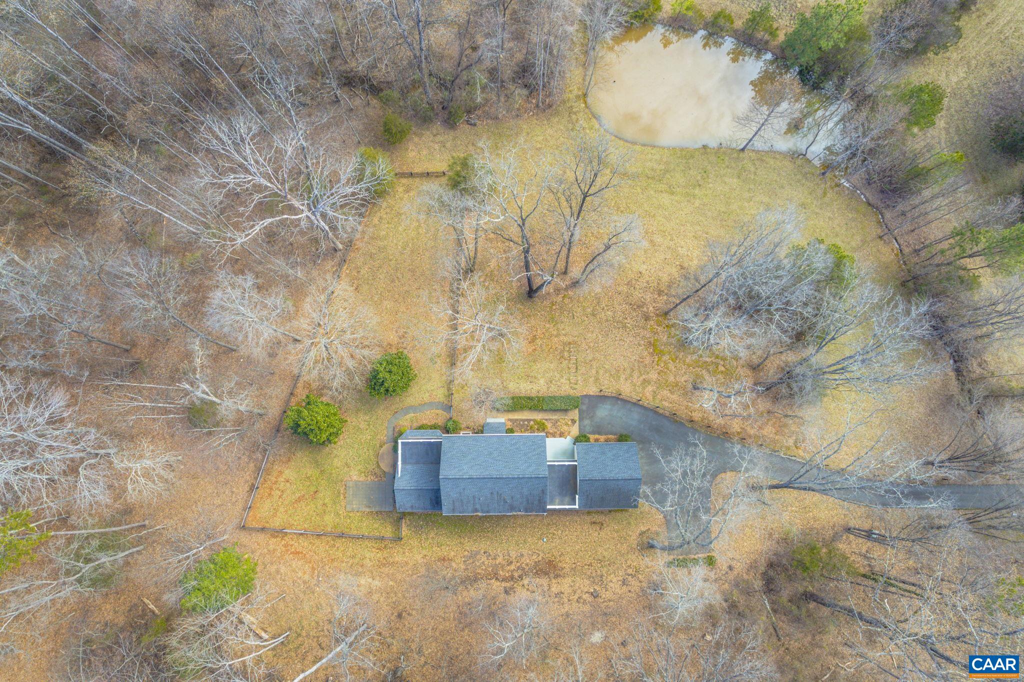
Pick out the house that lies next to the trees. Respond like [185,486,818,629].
[395,418,643,516]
